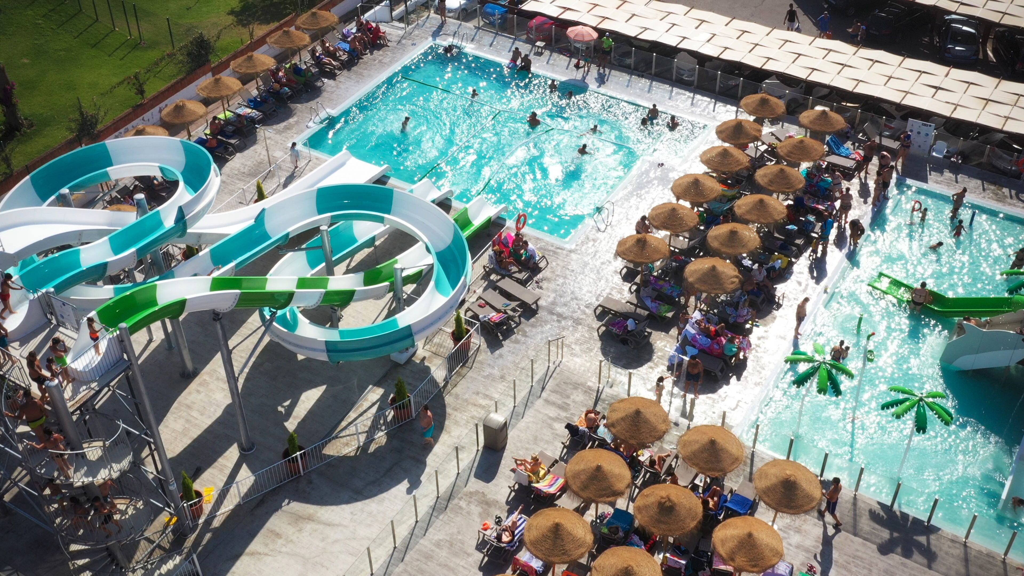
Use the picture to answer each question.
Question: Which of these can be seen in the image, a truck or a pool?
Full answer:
This aerial view contains a pool.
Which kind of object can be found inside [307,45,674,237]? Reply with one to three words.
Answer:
swimming pool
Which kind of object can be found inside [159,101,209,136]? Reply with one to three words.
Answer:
umbrella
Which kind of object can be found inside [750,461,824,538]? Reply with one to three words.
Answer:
umbrella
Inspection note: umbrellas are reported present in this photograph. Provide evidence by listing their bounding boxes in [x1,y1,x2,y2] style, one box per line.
[515,510,589,576]
[668,178,720,213]
[713,521,791,576]
[558,454,633,533]
[293,9,337,51]
[599,401,670,472]
[197,73,246,124]
[692,146,746,185]
[265,29,309,77]
[159,101,209,136]
[645,205,698,248]
[559,19,602,69]
[717,120,766,154]
[592,547,665,576]
[750,461,824,538]
[701,224,763,265]
[230,51,278,98]
[729,197,787,234]
[675,256,736,314]
[632,486,711,560]
[794,111,847,145]
[736,95,788,129]
[672,429,744,497]
[614,234,670,293]
[755,163,807,204]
